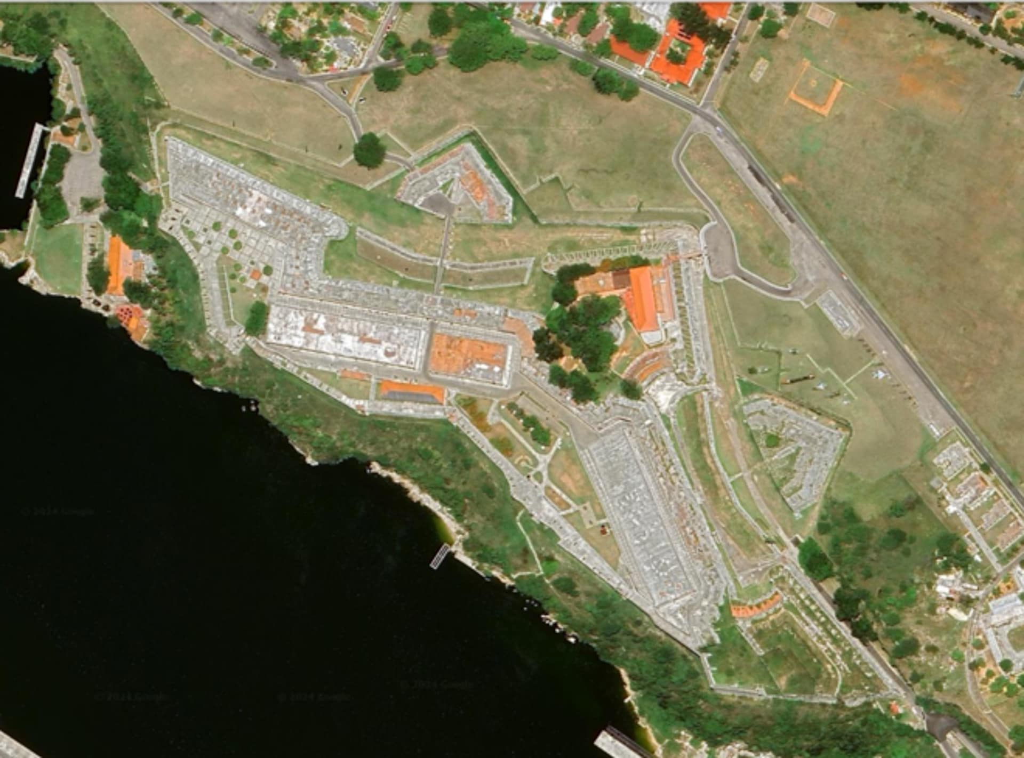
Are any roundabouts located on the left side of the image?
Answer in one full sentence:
No, I see no roundabout on the left side of the image.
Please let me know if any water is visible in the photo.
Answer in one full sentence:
Yes, the picture does contain water.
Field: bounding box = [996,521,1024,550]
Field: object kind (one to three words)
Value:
house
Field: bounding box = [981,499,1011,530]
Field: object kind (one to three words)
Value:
house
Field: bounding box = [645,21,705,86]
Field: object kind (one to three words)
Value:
building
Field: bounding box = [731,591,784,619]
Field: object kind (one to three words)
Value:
building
